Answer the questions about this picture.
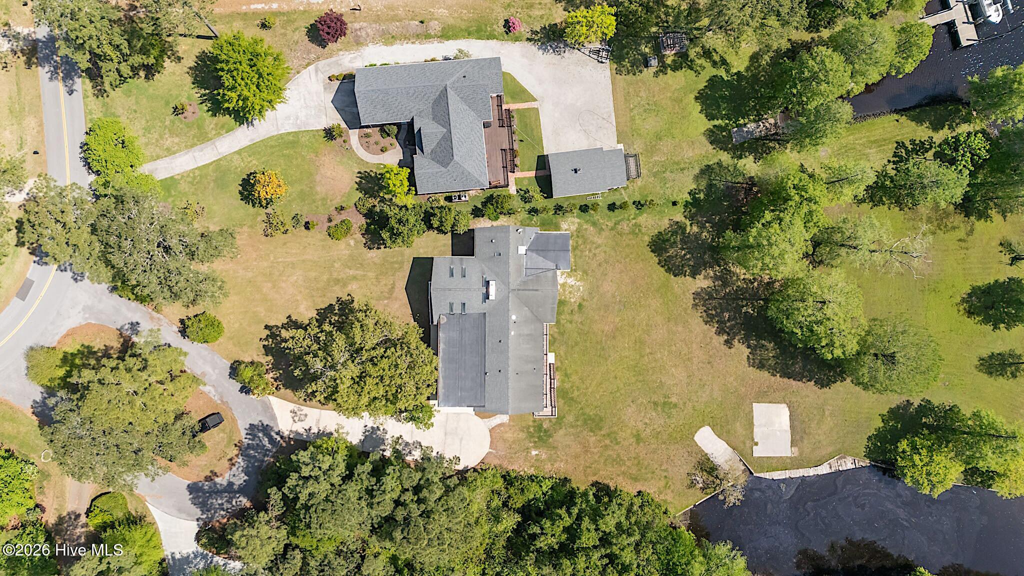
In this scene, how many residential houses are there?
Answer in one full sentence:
There are 2 residential houses in the image.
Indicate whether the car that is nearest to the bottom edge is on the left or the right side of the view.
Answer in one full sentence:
The car that is nearest to the bottom edge is on the left side of the image.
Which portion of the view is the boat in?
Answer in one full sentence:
You can find the boat in the top right area of the picture.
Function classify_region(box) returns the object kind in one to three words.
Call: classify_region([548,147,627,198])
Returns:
building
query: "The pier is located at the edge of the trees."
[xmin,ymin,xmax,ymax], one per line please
[918,0,986,50]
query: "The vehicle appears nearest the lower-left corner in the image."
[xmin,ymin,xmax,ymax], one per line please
[193,412,224,437]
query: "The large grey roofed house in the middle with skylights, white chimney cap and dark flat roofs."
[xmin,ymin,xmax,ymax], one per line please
[429,227,571,418]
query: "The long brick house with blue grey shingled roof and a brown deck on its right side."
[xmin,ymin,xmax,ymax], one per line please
[355,56,515,195]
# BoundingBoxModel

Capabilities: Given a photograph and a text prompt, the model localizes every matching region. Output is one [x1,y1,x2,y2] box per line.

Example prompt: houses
[429,227,571,418]
[355,56,515,195]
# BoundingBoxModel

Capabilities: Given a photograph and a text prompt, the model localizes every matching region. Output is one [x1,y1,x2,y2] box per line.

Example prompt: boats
[976,0,1002,27]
